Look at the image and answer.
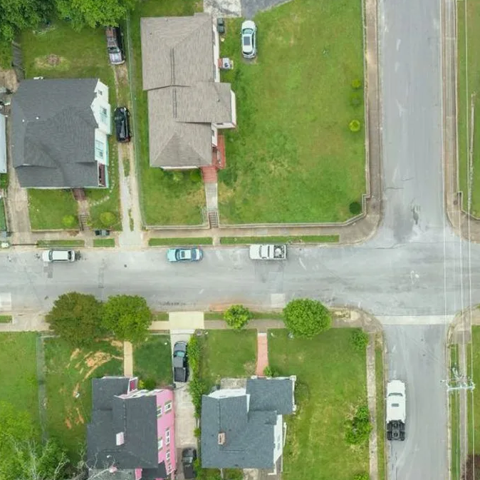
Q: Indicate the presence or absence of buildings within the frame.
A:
Yes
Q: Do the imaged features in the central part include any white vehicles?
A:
Yes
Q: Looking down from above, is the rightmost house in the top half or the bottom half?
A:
bottom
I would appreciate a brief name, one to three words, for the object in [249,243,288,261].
vehicle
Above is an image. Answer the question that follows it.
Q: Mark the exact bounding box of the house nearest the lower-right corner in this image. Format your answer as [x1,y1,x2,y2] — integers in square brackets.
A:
[202,376,295,473]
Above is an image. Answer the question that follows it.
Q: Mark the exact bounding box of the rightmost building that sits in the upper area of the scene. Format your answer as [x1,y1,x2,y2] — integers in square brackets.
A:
[140,12,234,184]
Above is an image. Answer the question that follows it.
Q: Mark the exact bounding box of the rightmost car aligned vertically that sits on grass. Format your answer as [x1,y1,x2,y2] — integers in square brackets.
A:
[238,19,256,58]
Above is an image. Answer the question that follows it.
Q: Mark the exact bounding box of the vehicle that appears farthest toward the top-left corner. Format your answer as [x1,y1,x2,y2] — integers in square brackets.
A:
[105,25,126,67]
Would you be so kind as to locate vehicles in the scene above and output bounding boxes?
[43,247,80,264]
[105,25,126,67]
[112,106,131,145]
[180,445,197,480]
[249,243,288,261]
[238,19,256,58]
[167,246,204,263]
[170,340,189,383]
[384,378,408,441]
